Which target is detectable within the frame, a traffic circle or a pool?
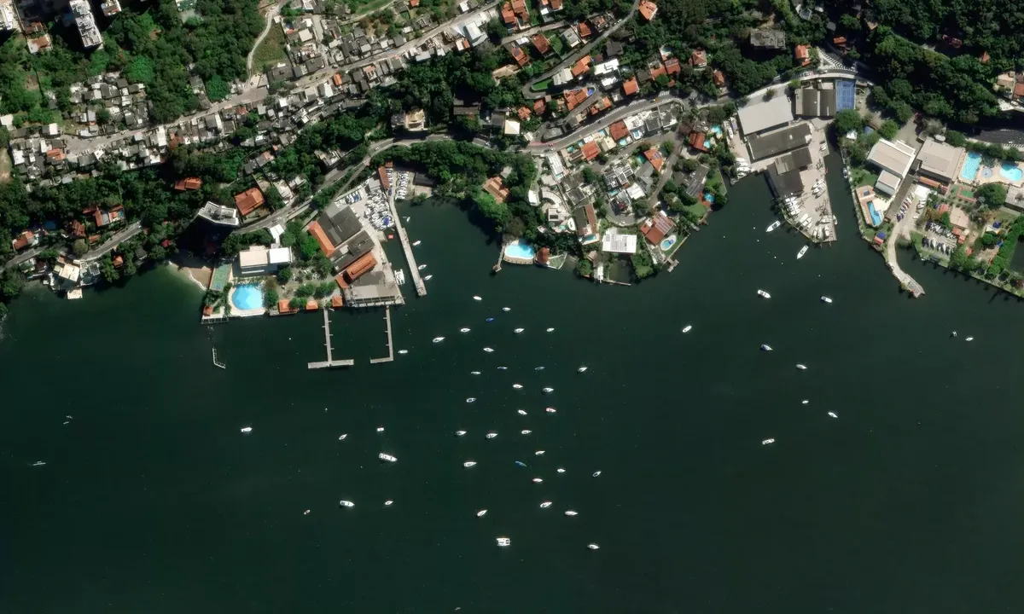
pool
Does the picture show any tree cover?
Yes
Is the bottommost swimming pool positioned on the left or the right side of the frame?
left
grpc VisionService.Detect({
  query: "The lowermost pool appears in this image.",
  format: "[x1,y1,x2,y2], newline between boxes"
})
[232,283,264,311]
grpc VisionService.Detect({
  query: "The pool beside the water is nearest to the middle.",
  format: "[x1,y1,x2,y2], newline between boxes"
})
[504,239,535,258]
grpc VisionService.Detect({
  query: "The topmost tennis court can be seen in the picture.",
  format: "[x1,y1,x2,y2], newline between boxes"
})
[836,80,855,112]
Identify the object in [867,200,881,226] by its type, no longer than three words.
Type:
swimming pool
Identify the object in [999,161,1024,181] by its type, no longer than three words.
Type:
swimming pool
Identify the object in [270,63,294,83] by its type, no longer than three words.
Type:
house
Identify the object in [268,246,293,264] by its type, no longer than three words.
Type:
building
